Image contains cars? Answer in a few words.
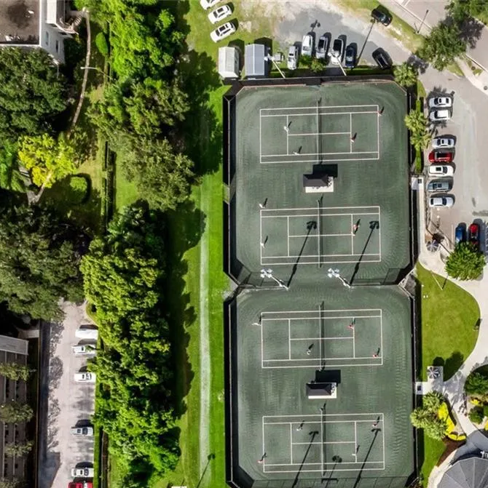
Yes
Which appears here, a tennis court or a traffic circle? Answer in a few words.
tennis court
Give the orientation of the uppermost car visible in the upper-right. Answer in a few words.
at an angle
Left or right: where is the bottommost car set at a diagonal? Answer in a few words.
right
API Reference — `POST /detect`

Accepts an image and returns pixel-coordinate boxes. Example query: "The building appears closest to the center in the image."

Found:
[304,172,334,190]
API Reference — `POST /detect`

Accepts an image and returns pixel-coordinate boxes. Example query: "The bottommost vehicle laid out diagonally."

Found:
[372,46,392,71]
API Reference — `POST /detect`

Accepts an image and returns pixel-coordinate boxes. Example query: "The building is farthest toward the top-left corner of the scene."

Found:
[0,0,75,63]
